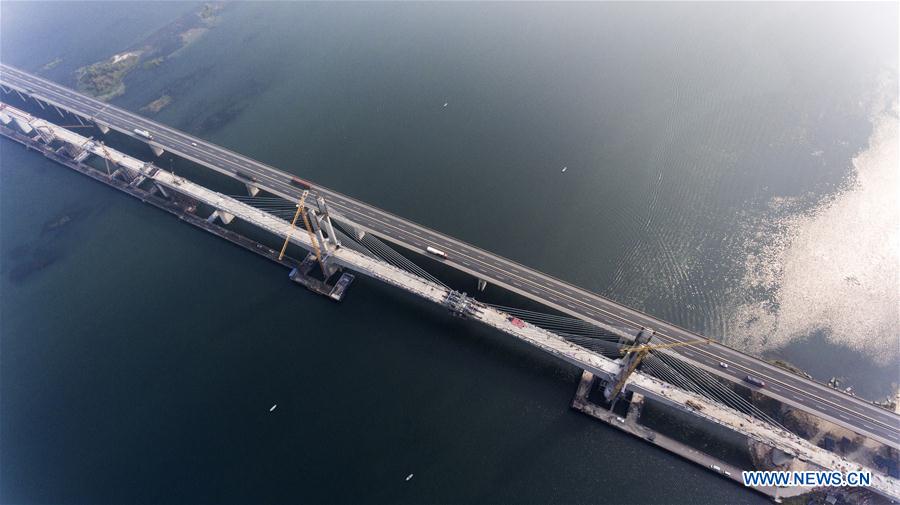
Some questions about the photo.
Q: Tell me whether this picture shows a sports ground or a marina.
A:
marina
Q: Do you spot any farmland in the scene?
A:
No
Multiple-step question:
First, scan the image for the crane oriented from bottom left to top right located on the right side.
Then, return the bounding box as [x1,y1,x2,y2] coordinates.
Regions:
[613,339,709,408]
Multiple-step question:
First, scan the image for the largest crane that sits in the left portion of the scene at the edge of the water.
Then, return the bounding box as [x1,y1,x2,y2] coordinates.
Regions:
[278,190,330,284]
